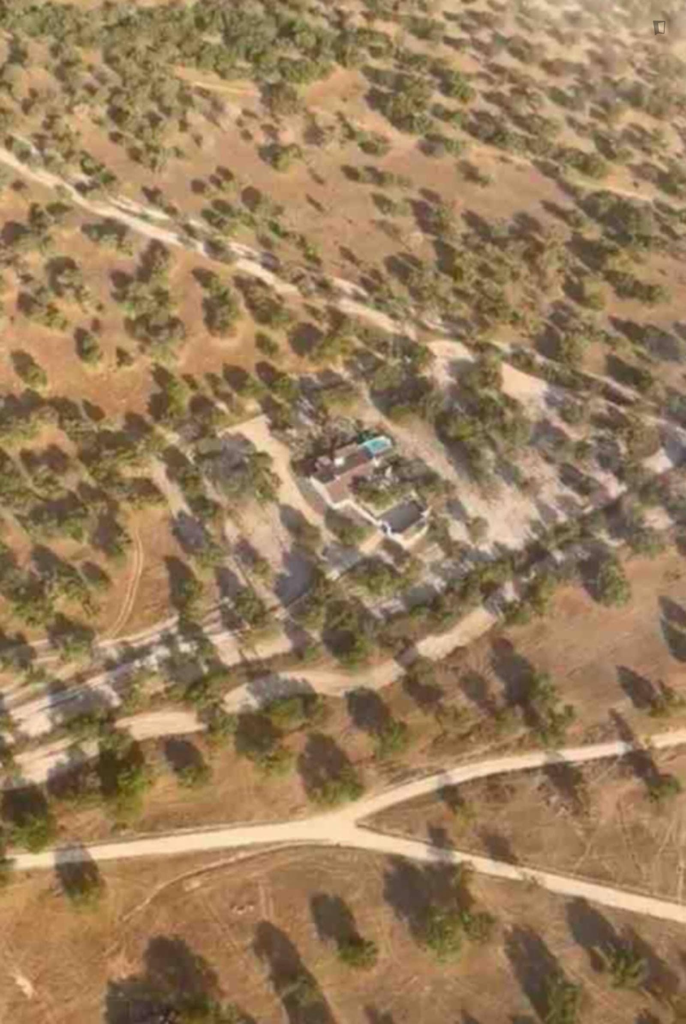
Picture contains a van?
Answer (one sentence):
No, no van is visible in the view.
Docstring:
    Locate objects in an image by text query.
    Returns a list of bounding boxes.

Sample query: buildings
[305,451,385,511]
[372,502,428,535]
